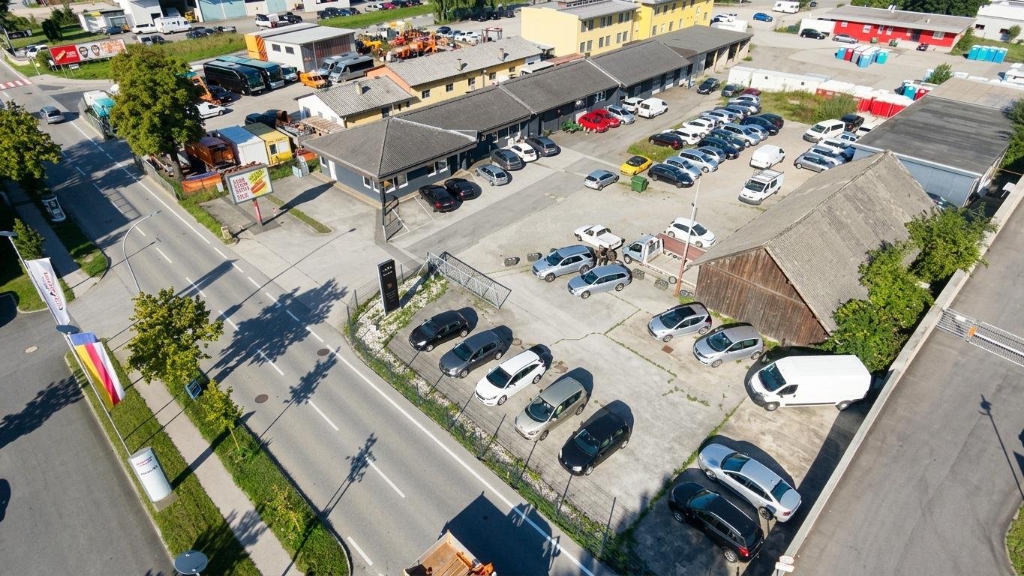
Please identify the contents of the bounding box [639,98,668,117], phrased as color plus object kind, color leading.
white vehicle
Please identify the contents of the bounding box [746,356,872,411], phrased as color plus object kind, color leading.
white van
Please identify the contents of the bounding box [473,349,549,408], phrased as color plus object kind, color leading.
white car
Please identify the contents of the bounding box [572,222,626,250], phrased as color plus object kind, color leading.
white truck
